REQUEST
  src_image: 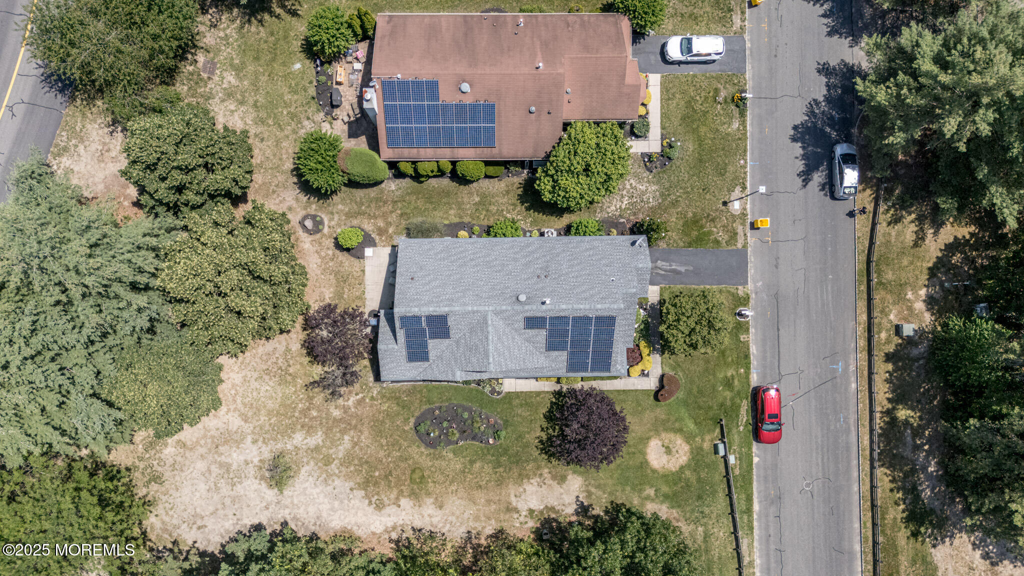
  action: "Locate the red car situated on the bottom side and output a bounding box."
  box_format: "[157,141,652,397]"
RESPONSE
[754,385,786,444]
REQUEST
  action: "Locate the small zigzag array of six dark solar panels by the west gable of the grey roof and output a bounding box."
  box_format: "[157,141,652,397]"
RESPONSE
[399,314,450,362]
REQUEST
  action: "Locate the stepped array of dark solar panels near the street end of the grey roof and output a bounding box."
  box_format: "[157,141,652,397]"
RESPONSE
[524,314,616,373]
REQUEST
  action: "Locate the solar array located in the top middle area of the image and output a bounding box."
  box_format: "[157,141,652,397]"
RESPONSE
[382,78,496,147]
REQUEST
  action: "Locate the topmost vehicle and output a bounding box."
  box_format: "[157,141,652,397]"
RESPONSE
[664,31,726,63]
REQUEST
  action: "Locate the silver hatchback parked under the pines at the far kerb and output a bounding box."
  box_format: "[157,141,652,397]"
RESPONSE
[829,144,860,200]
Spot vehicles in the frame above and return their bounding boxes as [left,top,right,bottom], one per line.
[664,31,726,63]
[829,144,860,200]
[754,385,786,444]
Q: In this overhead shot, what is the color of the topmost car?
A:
white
